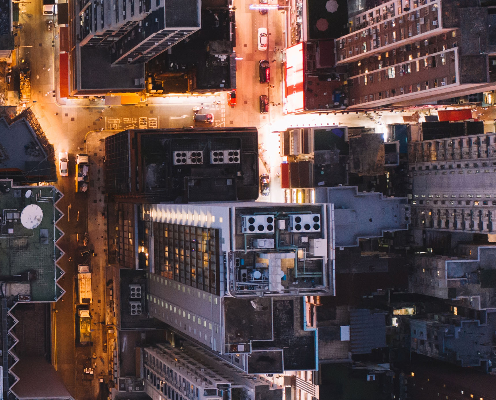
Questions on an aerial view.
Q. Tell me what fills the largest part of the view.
buildings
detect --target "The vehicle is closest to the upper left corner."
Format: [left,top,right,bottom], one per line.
[42,0,56,15]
